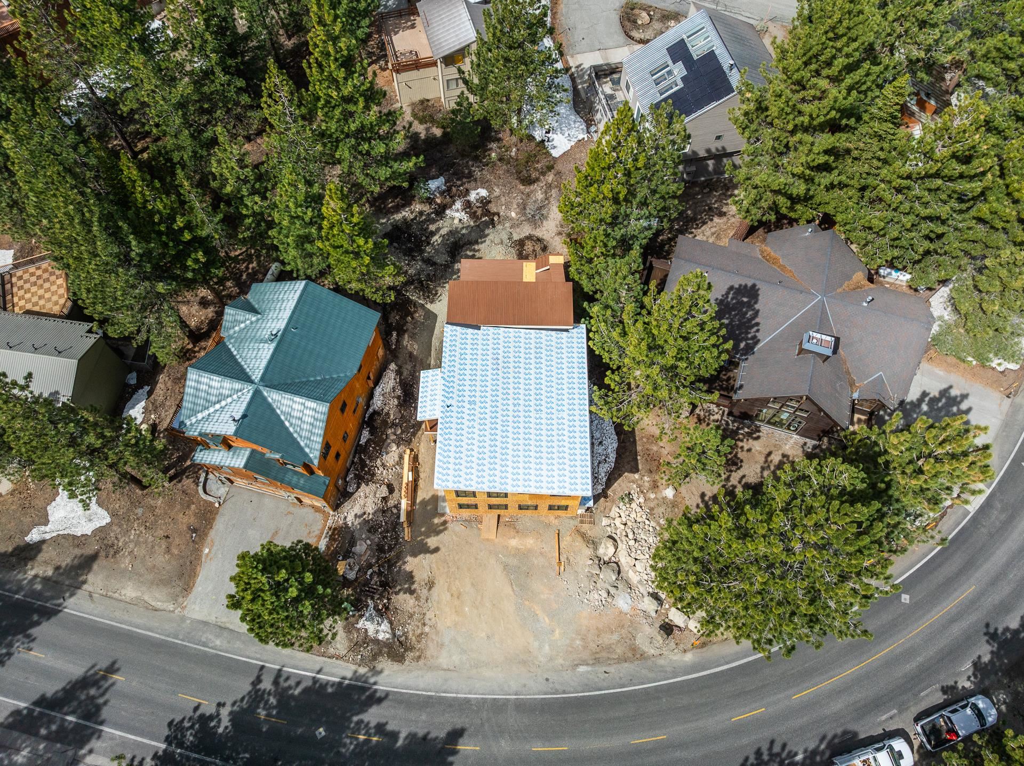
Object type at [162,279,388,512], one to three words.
house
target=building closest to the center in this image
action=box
[417,294,593,519]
